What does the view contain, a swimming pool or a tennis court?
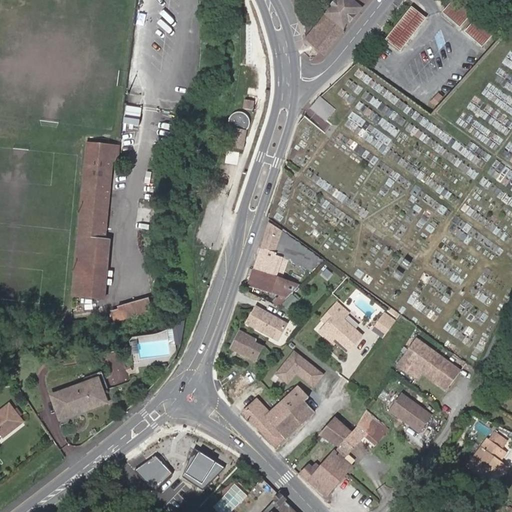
swimming pool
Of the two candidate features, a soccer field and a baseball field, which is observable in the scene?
soccer field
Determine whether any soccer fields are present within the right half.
No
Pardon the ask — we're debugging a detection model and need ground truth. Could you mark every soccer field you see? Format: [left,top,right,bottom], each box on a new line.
[0,134,83,306]
[0,0,136,141]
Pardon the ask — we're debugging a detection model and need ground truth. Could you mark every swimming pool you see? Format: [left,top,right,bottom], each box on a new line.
[356,298,376,320]
[132,329,176,372]
[473,418,494,440]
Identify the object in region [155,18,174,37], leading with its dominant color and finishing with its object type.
white vehicle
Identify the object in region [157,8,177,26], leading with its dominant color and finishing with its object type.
white vehicle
